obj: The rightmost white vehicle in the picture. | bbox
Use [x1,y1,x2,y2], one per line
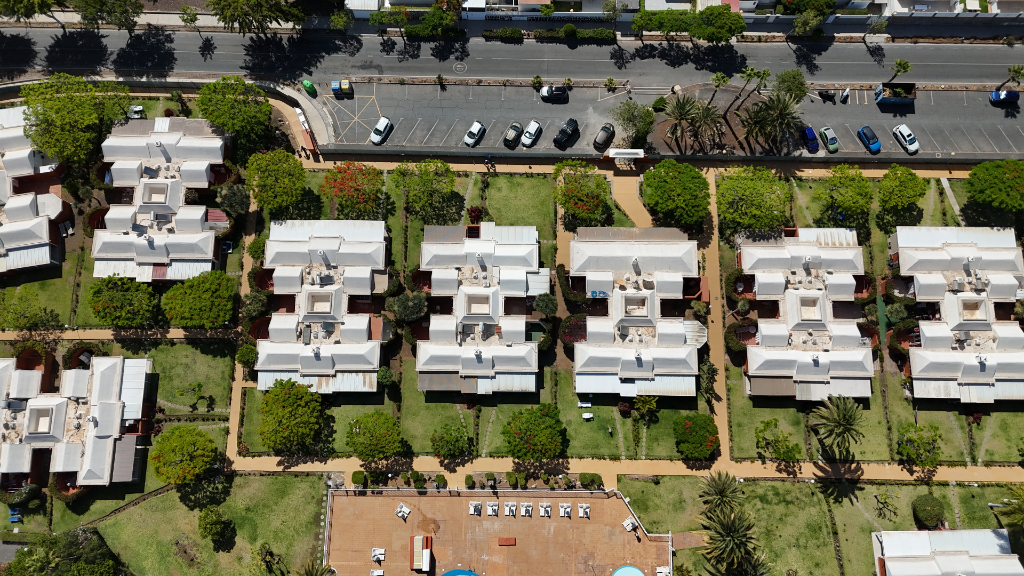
[894,125,918,153]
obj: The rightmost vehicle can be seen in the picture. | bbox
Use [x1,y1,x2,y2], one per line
[988,88,1021,104]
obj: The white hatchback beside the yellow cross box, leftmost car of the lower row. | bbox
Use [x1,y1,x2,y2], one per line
[371,116,392,145]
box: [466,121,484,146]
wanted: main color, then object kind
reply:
white car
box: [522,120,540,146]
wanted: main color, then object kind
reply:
white car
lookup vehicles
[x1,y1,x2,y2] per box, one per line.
[540,85,568,100]
[858,127,879,153]
[594,124,612,149]
[818,128,837,152]
[842,88,849,102]
[505,124,522,147]
[894,125,918,153]
[371,116,392,145]
[802,128,819,151]
[988,88,1021,104]
[522,120,540,146]
[819,91,834,98]
[554,115,578,148]
[466,121,484,146]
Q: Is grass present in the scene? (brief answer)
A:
Yes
